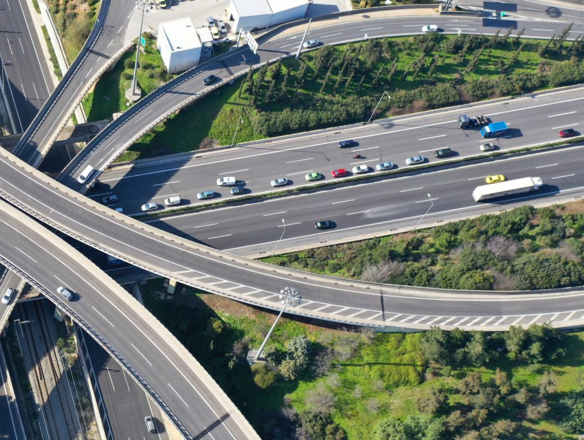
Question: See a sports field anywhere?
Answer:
No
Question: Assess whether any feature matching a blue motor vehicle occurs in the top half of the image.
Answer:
Yes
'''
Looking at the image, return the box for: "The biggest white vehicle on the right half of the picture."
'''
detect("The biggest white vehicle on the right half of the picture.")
[479,176,545,201]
